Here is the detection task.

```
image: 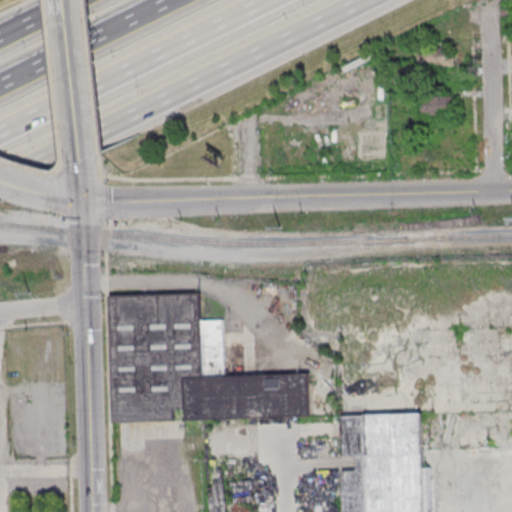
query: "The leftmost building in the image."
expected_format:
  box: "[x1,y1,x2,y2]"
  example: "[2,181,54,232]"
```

[108,294,204,422]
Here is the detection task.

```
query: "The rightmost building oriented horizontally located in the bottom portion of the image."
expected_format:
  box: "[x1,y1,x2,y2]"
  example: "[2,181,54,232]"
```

[182,370,313,420]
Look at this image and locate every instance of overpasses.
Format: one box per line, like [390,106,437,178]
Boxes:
[40,0,102,164]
